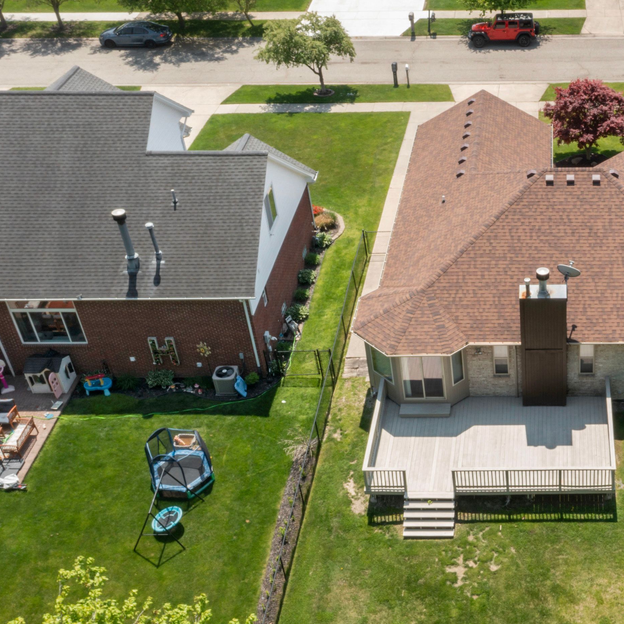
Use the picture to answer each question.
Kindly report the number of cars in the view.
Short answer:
2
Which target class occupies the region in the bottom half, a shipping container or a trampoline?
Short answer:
trampoline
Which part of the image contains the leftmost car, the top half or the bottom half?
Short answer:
top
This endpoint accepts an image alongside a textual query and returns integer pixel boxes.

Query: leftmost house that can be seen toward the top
[0,64,317,381]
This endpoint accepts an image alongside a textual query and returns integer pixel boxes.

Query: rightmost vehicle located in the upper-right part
[467,11,540,47]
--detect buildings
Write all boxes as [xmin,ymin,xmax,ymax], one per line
[0,64,317,381]
[347,87,624,414]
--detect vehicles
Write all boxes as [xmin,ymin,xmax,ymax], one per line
[467,11,540,47]
[102,15,177,46]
